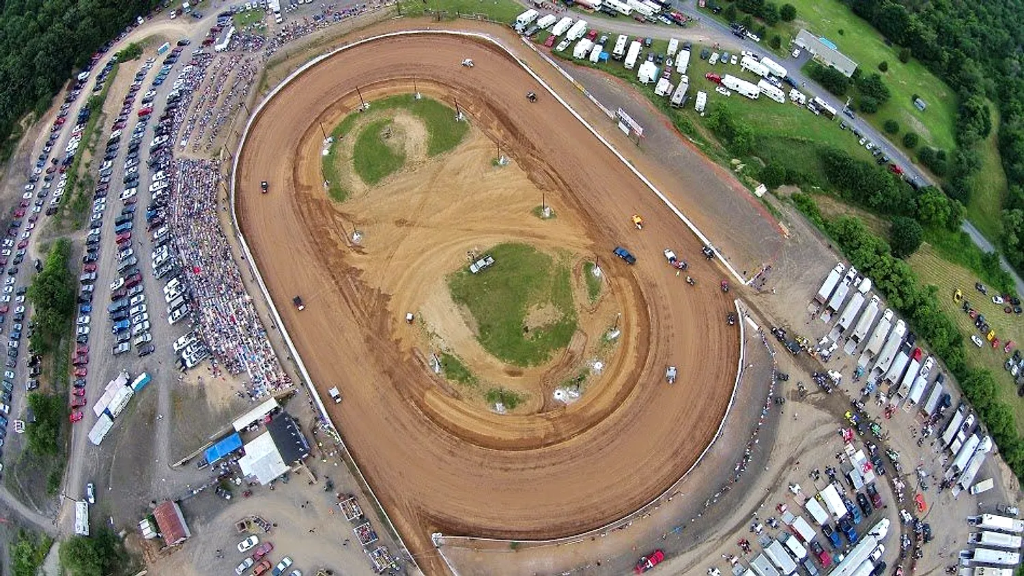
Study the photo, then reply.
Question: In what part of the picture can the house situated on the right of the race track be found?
top right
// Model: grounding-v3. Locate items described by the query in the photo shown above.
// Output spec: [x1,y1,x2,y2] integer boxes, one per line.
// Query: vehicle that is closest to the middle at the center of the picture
[470,255,494,272]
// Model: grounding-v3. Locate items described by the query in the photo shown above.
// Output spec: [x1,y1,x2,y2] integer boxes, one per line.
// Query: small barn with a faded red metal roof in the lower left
[153,502,198,547]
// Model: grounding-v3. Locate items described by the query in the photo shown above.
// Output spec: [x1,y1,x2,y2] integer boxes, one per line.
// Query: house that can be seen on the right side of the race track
[792,29,858,80]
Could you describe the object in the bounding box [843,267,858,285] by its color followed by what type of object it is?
white vehicle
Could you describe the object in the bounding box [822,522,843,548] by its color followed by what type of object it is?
blue truck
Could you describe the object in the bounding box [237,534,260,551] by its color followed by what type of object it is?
white car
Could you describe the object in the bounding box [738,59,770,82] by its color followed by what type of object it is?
white camper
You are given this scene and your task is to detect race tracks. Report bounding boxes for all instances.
[233,32,746,539]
